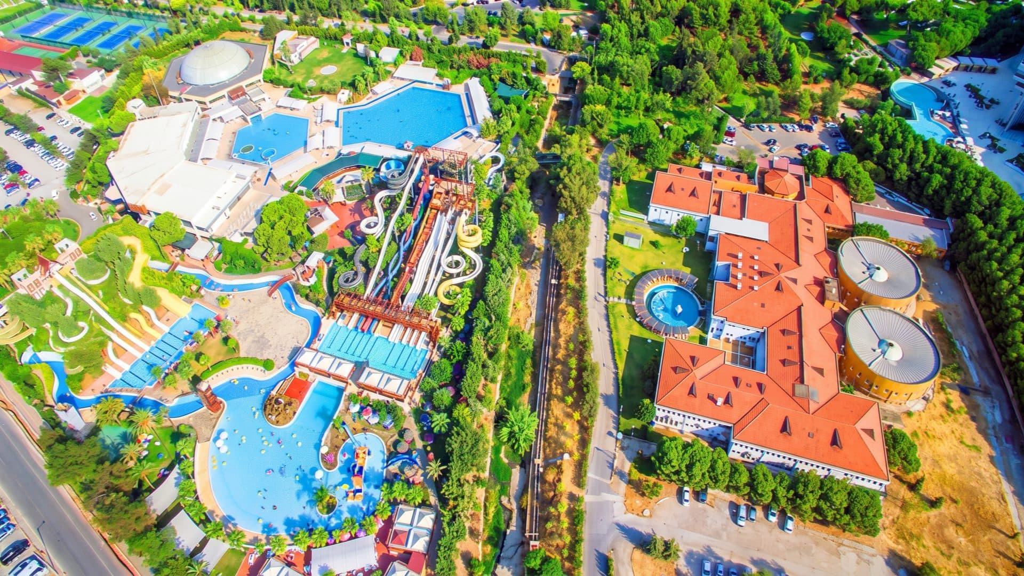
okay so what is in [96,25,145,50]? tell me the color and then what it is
blue tennis court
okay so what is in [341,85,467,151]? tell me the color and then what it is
blue swimming pool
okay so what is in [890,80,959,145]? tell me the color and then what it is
blue swimming pool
